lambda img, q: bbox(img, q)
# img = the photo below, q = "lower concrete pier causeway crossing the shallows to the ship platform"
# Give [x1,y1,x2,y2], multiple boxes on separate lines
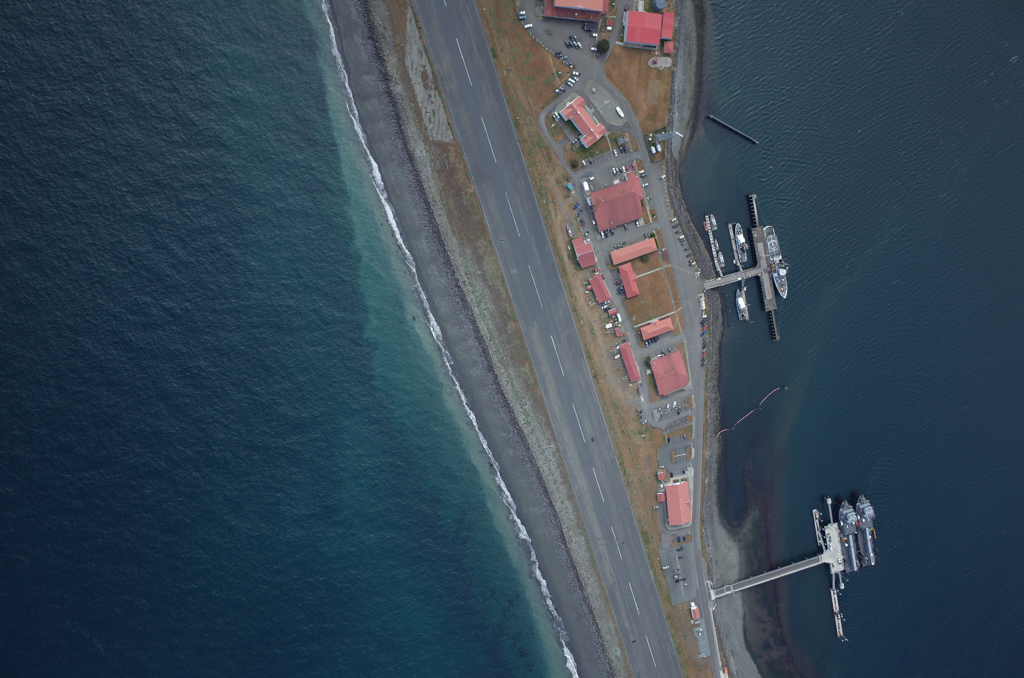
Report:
[715,553,820,599]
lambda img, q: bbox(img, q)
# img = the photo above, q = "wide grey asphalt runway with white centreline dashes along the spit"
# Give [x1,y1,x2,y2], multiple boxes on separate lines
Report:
[413,0,685,678]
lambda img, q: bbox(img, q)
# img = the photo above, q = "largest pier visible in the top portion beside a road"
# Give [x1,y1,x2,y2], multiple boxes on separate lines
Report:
[746,226,777,313]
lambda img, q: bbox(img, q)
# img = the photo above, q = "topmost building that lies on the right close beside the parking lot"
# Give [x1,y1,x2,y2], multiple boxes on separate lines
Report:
[664,480,691,525]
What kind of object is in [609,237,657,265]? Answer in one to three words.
building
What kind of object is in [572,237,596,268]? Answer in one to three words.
building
